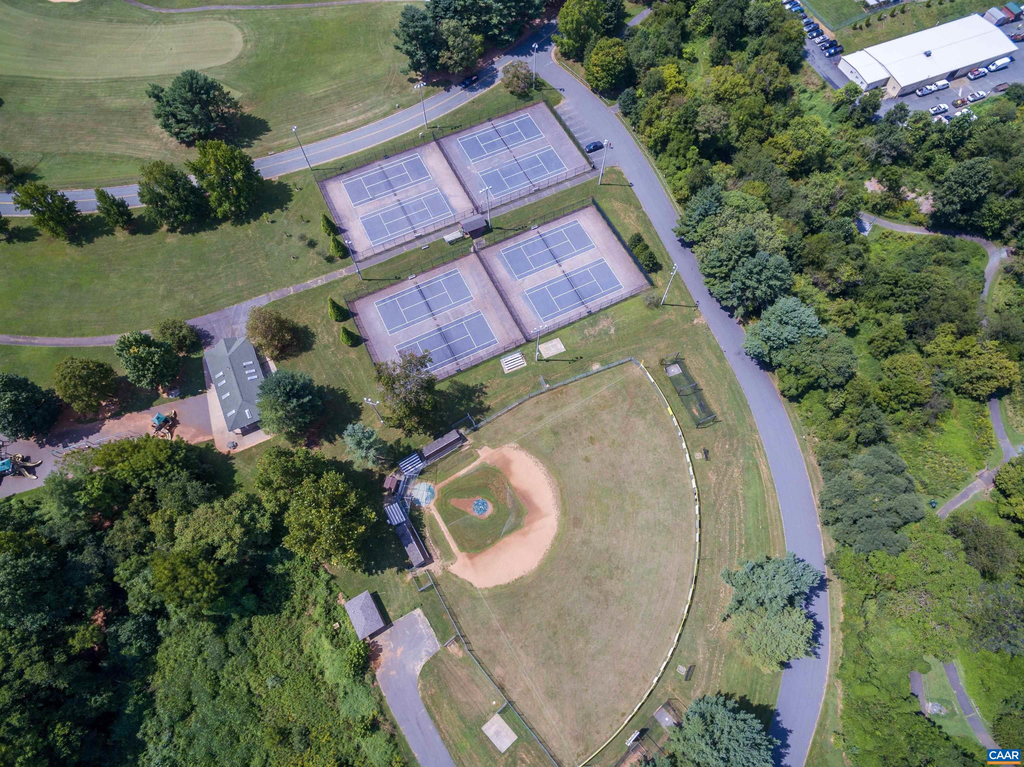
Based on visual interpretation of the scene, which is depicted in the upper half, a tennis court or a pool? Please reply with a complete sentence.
Looking in the upper half, you will find a tennis court.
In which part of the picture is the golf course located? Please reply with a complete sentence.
The golf course is located in the top left region of the scene.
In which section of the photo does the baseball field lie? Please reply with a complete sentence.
The baseball field is located in the bottom region of the scene.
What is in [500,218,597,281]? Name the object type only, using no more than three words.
tennis court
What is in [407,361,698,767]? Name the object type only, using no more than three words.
baseball field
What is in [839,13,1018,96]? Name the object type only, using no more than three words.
building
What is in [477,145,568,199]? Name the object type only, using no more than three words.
tennis court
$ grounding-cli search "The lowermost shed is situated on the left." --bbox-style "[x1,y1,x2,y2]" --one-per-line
[345,590,385,638]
